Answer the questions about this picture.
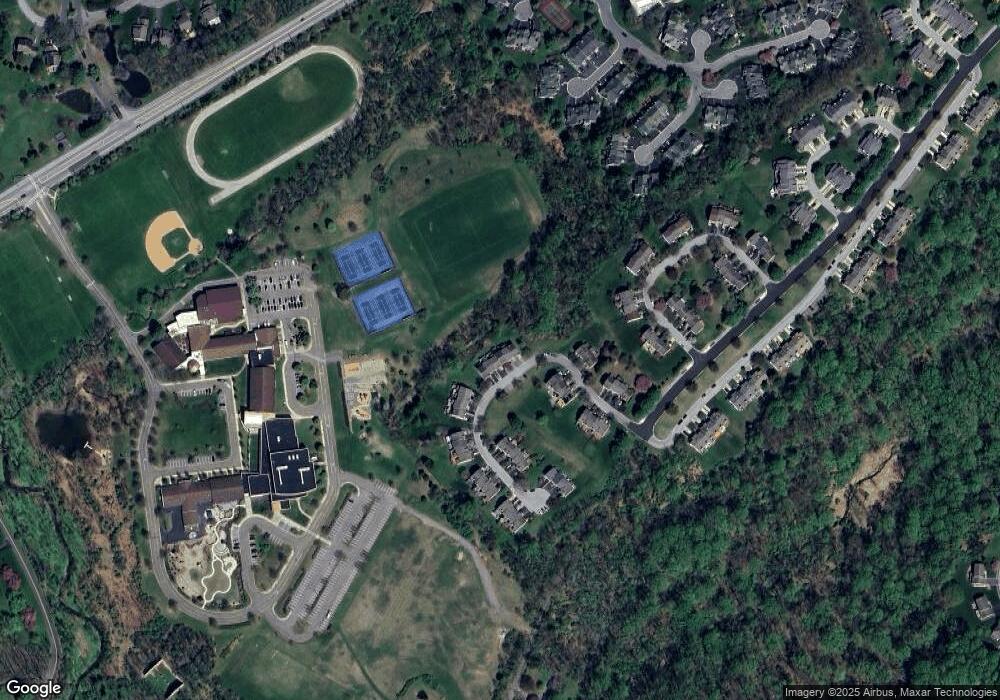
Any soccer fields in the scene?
Yes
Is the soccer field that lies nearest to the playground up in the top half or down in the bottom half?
top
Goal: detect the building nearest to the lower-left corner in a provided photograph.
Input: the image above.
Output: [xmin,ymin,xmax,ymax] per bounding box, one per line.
[143,660,184,700]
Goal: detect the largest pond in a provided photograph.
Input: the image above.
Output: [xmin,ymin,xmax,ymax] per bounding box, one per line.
[37,411,92,461]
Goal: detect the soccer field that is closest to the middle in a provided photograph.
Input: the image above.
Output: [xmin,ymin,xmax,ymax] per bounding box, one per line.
[398,165,537,302]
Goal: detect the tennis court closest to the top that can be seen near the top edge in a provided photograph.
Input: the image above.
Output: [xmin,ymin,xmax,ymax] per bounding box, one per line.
[538,0,574,31]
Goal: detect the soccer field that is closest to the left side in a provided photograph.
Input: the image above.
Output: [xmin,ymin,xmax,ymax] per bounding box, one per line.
[0,216,86,376]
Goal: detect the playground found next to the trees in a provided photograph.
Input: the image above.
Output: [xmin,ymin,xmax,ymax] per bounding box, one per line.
[344,356,388,421]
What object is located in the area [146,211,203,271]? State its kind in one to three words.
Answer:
baseball field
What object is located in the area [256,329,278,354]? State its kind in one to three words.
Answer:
building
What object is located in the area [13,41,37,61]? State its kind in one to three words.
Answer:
house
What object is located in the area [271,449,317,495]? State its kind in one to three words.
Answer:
building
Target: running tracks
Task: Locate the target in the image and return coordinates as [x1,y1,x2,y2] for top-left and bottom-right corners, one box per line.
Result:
[187,45,364,204]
